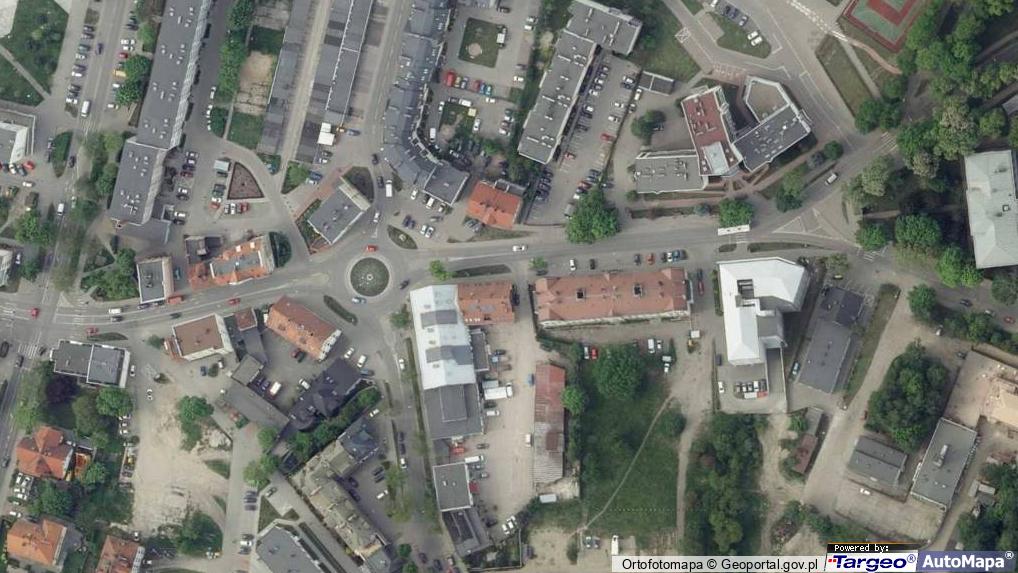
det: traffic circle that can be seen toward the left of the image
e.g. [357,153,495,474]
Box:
[346,254,394,300]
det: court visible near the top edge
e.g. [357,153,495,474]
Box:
[841,0,925,51]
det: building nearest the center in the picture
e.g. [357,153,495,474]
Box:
[458,281,518,326]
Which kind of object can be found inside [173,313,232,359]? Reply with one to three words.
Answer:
building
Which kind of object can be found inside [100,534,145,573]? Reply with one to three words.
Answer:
house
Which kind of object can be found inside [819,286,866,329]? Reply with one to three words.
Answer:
building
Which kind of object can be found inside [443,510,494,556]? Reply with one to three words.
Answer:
shed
